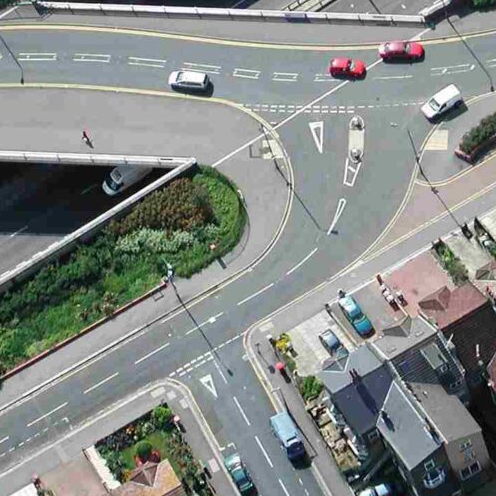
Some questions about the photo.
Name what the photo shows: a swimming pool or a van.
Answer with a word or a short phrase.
van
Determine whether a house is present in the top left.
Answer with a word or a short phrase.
No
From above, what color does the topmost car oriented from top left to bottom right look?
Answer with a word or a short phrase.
blue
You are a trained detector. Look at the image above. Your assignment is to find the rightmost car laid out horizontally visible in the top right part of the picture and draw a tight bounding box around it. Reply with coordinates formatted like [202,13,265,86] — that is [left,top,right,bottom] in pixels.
[379,42,423,62]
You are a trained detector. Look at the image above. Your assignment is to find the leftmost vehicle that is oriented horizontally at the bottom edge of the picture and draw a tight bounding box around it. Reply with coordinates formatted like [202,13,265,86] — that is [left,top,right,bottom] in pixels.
[359,479,400,496]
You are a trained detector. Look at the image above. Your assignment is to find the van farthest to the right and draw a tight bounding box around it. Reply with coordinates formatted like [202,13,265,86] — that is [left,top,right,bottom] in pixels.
[423,85,464,122]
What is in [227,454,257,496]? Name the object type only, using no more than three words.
car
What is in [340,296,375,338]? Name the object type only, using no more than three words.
car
